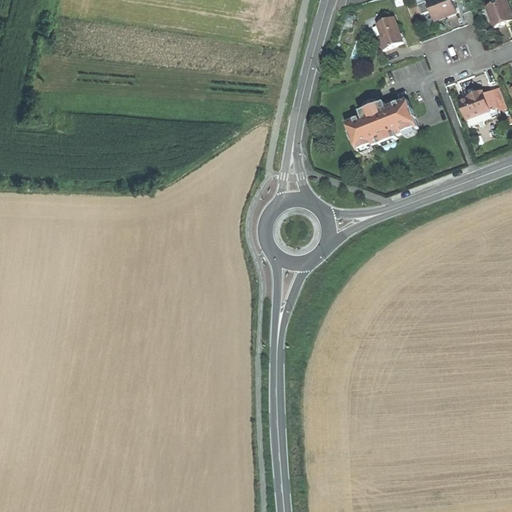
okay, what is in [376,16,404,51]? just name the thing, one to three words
house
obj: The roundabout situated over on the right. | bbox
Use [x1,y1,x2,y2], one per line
[252,126,384,350]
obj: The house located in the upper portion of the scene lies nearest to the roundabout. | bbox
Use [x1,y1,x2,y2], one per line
[344,98,420,155]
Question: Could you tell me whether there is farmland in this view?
Yes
